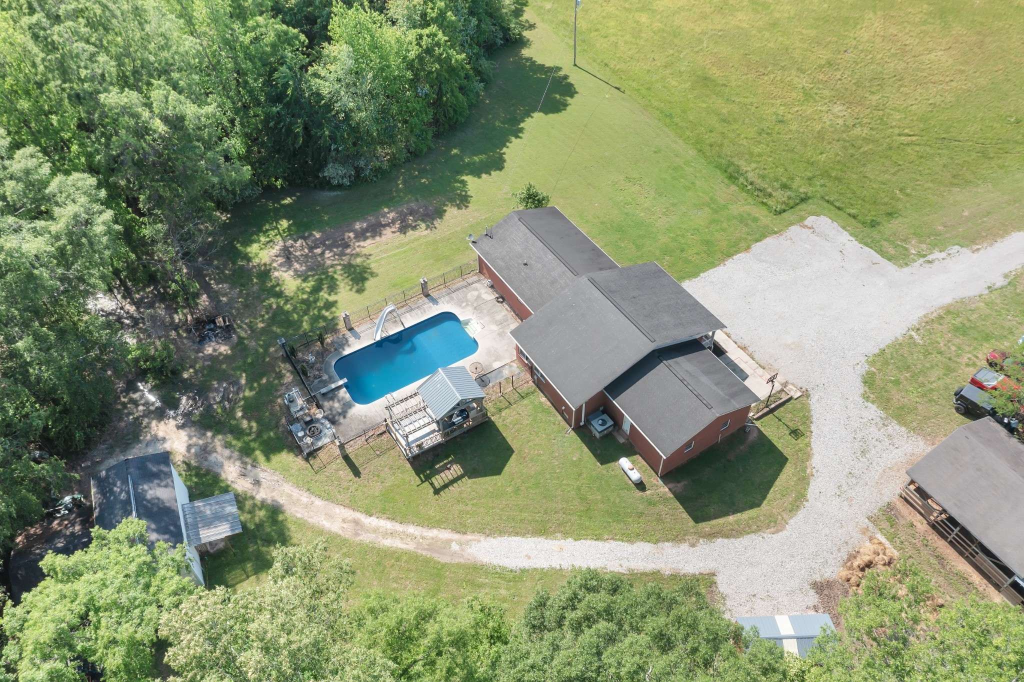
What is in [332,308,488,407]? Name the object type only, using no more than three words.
swimming pool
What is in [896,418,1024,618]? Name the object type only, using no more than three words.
barn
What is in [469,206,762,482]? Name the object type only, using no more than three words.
house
